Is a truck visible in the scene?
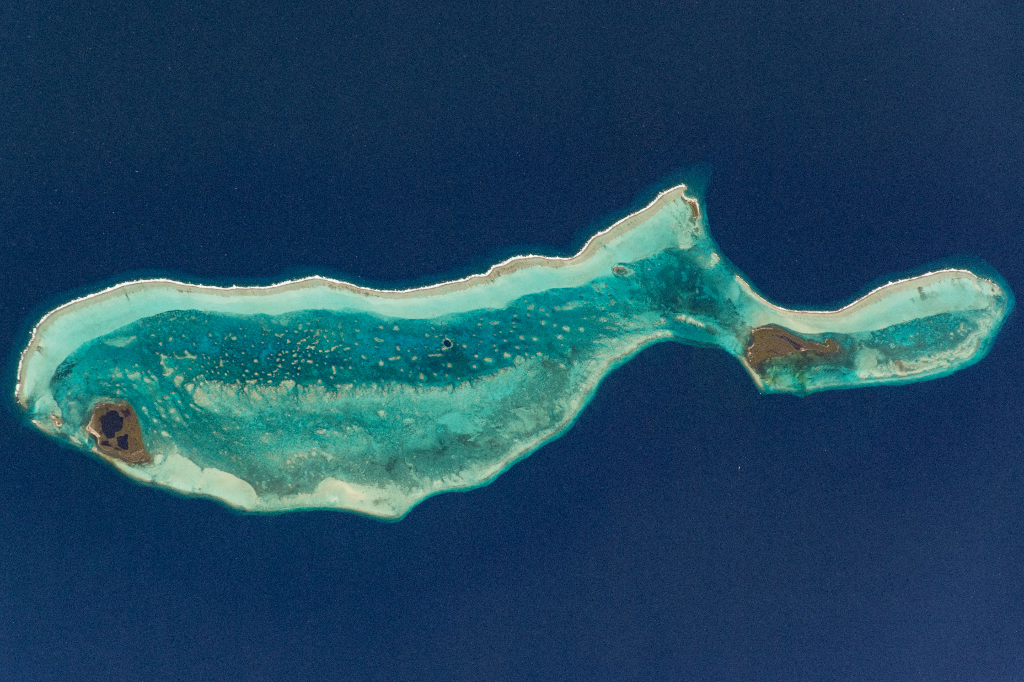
No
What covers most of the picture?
water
